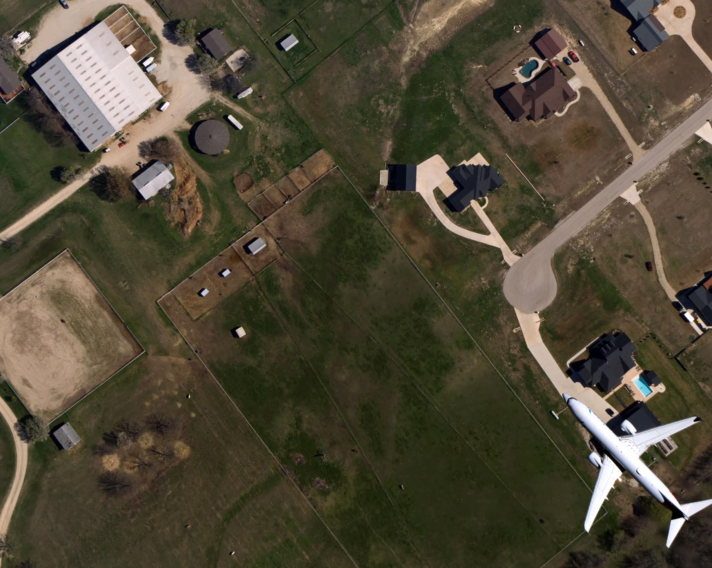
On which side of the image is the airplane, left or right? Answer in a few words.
right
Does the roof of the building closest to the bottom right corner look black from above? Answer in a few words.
Yes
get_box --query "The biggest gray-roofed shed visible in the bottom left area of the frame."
[55,422,80,450]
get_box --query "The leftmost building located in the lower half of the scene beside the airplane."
[580,330,640,392]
